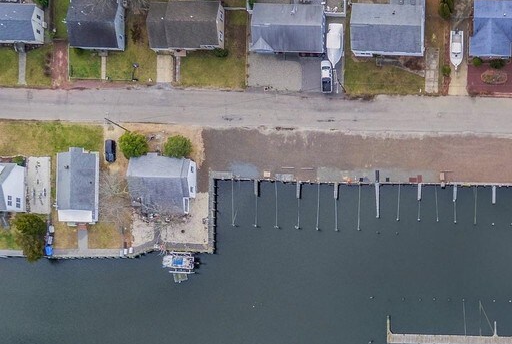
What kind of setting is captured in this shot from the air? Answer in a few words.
residential area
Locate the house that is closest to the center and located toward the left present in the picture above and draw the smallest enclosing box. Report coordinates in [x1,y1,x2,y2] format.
[119,150,197,215]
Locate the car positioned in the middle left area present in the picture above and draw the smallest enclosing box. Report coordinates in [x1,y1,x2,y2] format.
[104,139,118,164]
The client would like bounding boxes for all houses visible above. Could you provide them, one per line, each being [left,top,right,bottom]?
[469,0,512,60]
[0,2,45,52]
[62,0,126,58]
[248,0,324,57]
[119,150,197,215]
[0,162,30,214]
[143,0,224,57]
[57,146,100,230]
[349,0,426,64]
